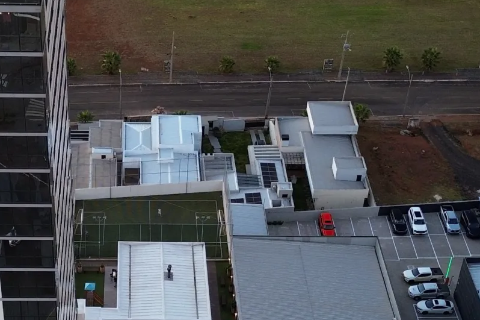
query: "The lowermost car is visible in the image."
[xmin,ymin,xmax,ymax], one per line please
[417,299,459,315]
